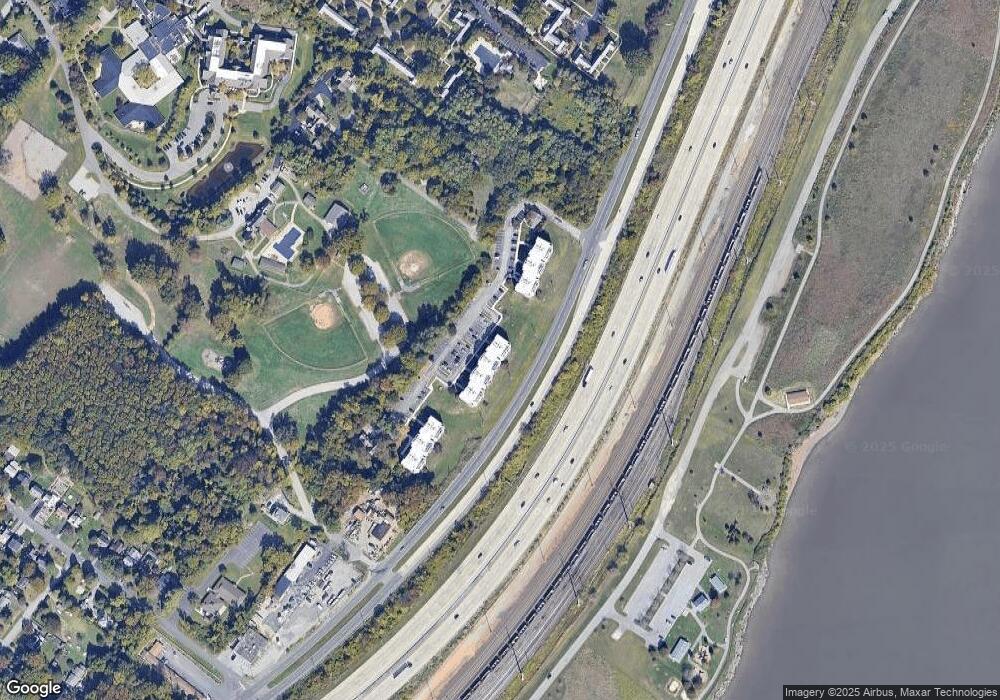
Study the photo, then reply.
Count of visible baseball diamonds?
2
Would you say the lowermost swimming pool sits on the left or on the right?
left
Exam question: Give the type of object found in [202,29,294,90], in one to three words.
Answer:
house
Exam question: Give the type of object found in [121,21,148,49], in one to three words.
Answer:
building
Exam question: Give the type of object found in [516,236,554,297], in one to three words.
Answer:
building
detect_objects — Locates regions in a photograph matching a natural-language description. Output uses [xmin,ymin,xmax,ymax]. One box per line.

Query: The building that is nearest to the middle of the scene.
[460,336,511,407]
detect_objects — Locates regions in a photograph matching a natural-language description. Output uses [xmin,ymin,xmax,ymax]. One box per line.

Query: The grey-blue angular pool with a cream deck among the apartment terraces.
[466,36,513,78]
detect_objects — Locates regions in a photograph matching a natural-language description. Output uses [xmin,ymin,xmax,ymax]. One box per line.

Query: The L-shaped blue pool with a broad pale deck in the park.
[254,223,305,263]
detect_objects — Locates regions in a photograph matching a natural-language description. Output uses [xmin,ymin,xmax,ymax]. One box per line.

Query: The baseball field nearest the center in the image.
[373,210,475,292]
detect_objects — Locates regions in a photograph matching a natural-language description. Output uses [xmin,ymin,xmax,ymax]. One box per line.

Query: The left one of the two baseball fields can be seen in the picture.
[263,288,367,371]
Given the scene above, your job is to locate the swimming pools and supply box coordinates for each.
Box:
[254,223,305,263]
[466,36,513,78]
